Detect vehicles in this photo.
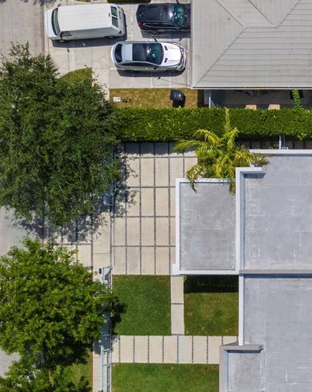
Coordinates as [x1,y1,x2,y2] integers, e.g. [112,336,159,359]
[141,1,190,38]
[114,39,188,76]
[48,2,130,43]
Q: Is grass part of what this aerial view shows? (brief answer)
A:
Yes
